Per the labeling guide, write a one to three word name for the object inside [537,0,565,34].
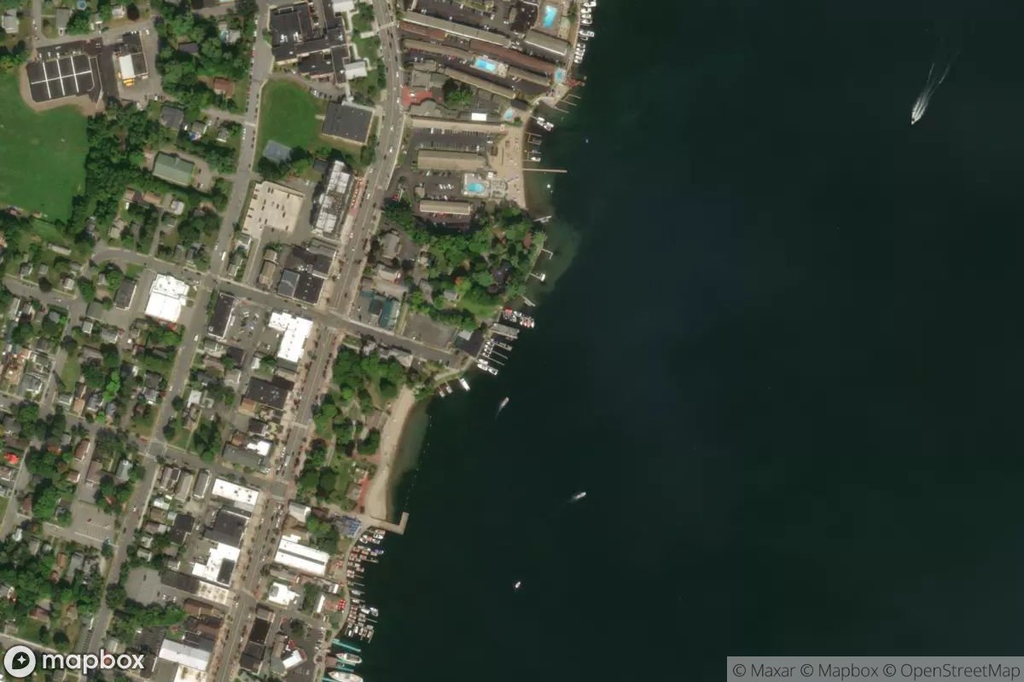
swimming pool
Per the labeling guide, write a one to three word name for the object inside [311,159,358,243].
building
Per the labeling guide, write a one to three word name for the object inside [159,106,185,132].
house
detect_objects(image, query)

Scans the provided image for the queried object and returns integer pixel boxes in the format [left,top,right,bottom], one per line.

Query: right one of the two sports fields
[257,78,324,148]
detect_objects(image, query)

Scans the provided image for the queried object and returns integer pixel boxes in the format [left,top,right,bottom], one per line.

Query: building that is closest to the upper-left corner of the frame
[2,7,20,35]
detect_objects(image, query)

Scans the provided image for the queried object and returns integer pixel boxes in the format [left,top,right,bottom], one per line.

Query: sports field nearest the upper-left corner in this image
[0,73,88,223]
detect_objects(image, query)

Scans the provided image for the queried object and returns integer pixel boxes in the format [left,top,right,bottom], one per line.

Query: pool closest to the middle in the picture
[464,174,507,197]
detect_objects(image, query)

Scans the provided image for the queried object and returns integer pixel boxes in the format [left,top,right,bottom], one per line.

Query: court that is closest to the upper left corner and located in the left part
[27,54,94,101]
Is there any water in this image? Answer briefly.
Yes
